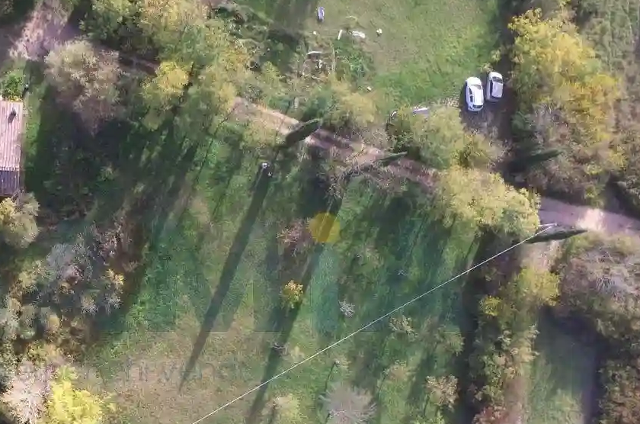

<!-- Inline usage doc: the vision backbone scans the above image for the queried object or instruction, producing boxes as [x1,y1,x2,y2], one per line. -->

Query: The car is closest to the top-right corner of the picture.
[485,73,503,102]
